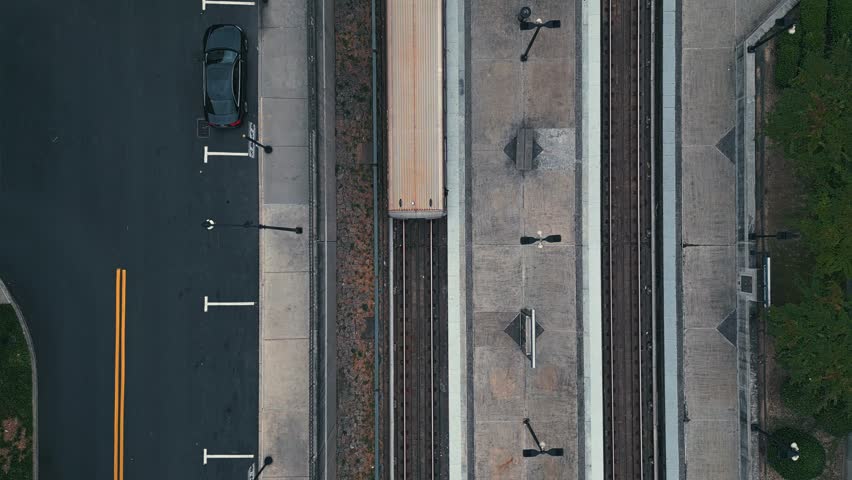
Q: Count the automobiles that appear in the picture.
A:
1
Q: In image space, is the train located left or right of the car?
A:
on the right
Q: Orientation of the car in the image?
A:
from top to bottom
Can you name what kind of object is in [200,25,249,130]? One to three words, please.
car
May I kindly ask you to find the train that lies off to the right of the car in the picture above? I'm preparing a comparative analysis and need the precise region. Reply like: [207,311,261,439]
[384,0,451,228]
